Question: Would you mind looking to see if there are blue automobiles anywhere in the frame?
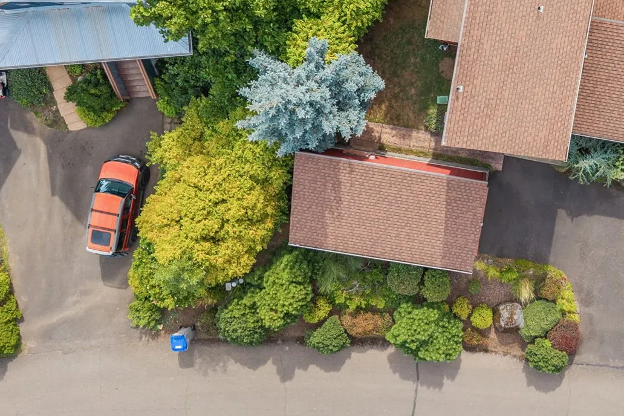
No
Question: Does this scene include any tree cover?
Yes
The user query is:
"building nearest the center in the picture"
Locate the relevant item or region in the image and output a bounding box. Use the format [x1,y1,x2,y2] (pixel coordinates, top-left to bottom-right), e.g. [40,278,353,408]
[287,142,490,277]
